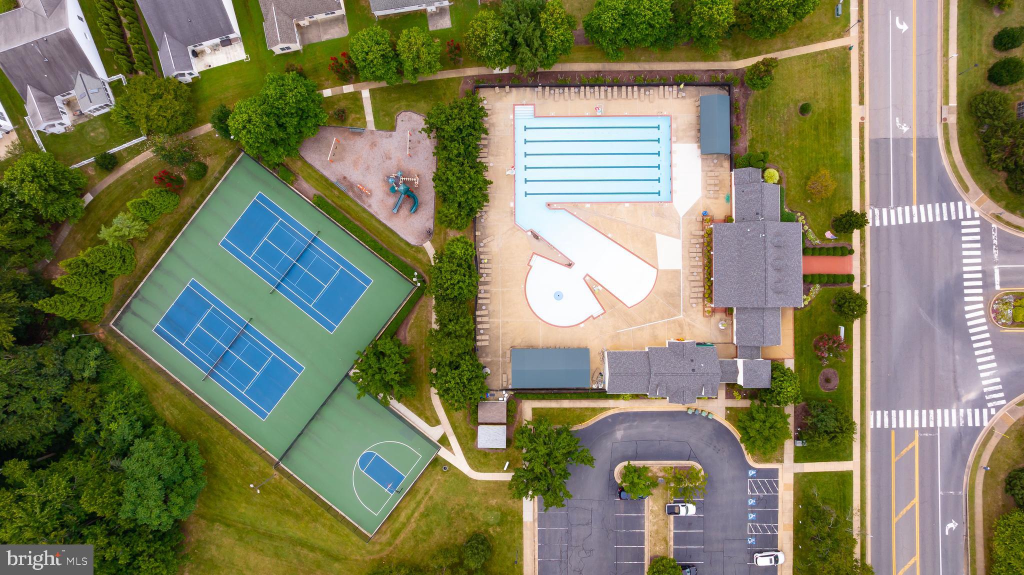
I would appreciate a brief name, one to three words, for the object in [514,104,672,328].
swimming pool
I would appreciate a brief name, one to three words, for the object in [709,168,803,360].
building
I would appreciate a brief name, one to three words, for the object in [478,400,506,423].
shed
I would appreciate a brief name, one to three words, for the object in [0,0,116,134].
house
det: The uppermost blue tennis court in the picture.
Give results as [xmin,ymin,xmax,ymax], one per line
[220,192,373,331]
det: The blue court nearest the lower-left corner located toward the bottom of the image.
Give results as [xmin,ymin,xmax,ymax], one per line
[152,279,305,421]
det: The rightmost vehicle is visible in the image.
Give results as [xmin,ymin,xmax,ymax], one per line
[755,553,785,568]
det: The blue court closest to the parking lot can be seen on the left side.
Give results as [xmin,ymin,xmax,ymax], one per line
[353,441,422,515]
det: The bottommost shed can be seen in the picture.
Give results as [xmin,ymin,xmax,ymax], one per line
[478,424,506,448]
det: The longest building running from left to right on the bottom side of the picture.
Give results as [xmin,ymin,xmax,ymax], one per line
[606,342,740,404]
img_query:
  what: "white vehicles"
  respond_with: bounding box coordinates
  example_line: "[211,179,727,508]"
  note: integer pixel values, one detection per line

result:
[666,503,697,519]
[755,553,785,568]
